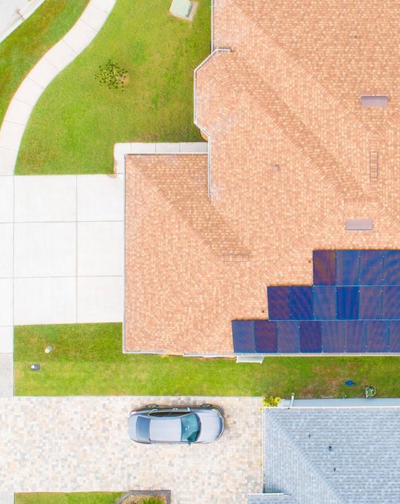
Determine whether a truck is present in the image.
No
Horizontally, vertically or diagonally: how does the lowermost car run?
horizontally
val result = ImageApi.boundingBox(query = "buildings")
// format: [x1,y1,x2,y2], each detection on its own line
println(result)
[247,392,400,504]
[122,0,400,357]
